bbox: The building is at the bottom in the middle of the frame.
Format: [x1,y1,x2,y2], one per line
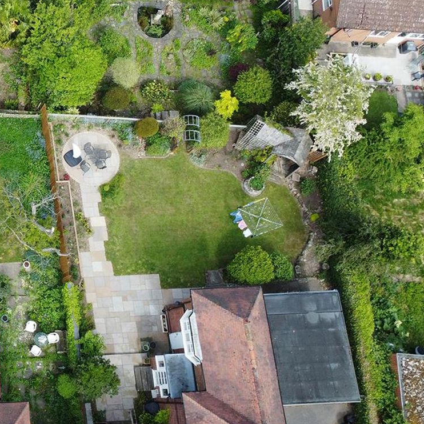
[146,283,362,424]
